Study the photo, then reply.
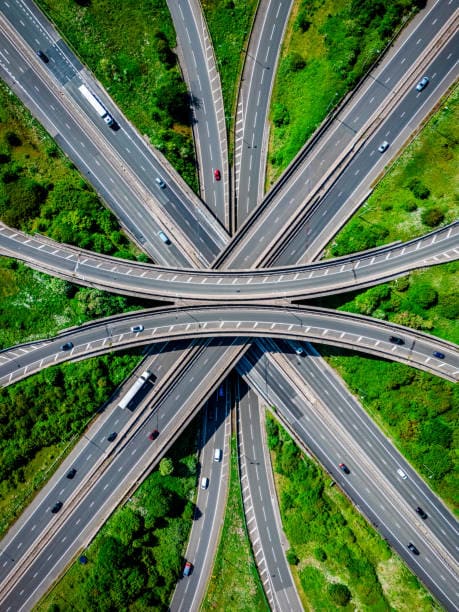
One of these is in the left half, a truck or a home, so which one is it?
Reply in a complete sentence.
The feature located in the left half is a truck.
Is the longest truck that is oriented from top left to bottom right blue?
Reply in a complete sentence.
No, from above the longest truck that is oriented from top left to bottom right looks white.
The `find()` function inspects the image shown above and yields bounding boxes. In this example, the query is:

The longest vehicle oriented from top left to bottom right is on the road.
[78,84,114,127]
